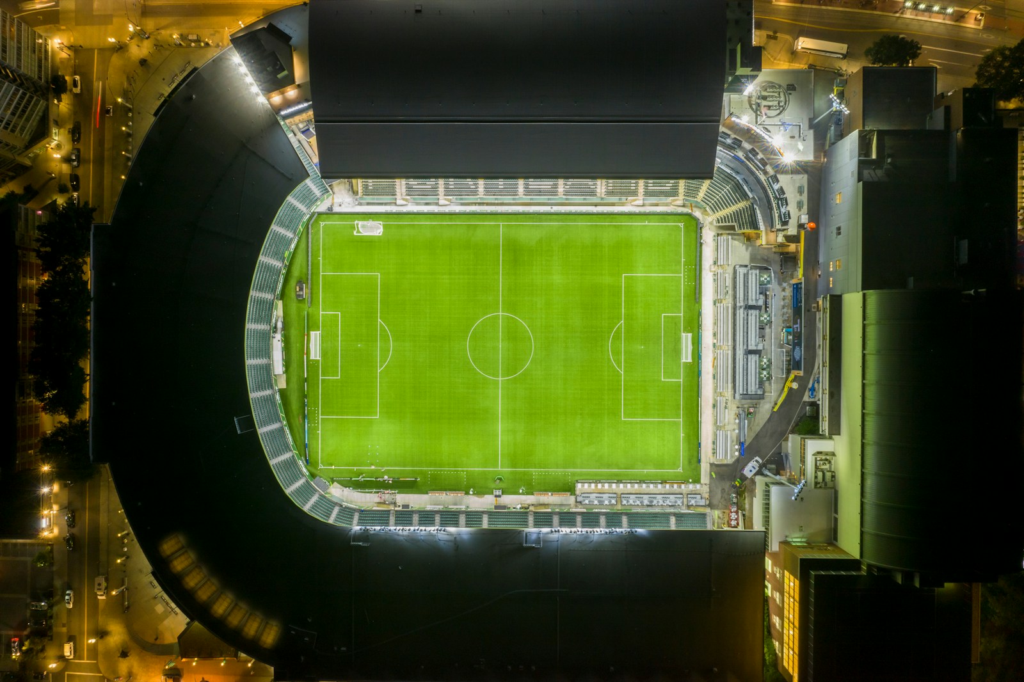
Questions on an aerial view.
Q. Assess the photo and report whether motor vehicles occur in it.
Yes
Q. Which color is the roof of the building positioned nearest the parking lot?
black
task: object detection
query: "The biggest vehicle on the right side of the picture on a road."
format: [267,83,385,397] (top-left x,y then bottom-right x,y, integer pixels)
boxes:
[796,38,850,57]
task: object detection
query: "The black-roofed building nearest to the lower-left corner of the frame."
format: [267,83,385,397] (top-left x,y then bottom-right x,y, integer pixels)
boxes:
[0,468,53,545]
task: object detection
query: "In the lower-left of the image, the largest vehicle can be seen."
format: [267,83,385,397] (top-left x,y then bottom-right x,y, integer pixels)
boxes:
[92,575,107,600]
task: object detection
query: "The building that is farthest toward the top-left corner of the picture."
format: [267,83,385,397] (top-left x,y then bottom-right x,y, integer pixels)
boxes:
[0,4,49,89]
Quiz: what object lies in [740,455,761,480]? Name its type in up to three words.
vehicle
